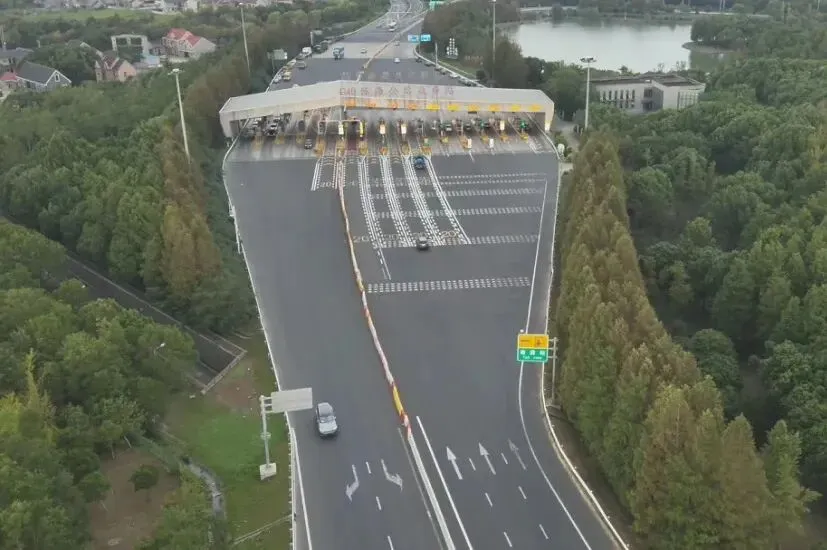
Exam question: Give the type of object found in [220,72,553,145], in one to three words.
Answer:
toll station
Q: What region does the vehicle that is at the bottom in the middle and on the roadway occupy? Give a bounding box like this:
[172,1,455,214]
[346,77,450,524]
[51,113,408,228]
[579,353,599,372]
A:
[316,404,338,438]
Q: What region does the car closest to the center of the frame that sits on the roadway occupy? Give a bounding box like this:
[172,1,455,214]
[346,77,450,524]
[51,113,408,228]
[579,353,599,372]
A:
[416,237,430,250]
